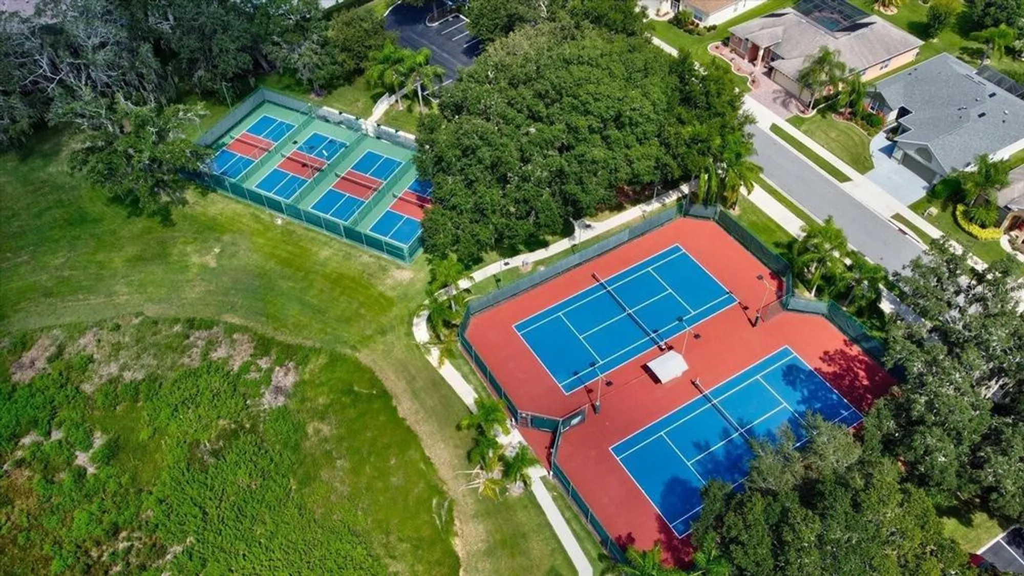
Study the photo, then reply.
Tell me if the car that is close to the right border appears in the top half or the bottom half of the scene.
bottom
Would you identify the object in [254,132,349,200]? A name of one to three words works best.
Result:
sports court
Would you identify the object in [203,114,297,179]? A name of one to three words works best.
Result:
sports court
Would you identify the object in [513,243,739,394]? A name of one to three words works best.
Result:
tennis court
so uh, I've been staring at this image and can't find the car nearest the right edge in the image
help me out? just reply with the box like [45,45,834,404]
[980,555,1020,576]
